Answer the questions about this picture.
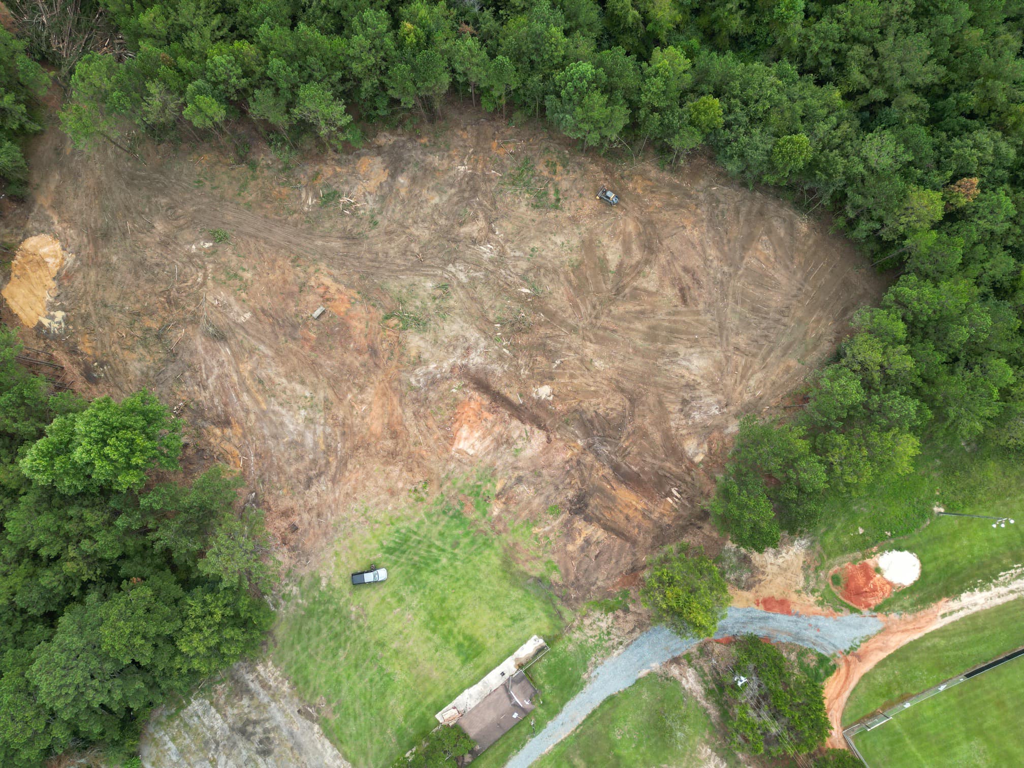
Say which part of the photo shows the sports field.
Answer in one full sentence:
The sports field is in the bottom right part of the image.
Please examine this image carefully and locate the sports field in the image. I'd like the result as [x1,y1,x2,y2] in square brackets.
[815,428,1024,768]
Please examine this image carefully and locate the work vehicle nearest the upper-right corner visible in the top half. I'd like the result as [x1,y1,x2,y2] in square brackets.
[595,186,619,205]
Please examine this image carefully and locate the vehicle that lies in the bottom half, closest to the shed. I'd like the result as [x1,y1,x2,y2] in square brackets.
[351,568,388,586]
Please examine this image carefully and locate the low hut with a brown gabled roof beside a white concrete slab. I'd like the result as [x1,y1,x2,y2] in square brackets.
[459,665,537,753]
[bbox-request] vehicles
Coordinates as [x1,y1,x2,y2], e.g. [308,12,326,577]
[351,568,388,586]
[595,186,619,205]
